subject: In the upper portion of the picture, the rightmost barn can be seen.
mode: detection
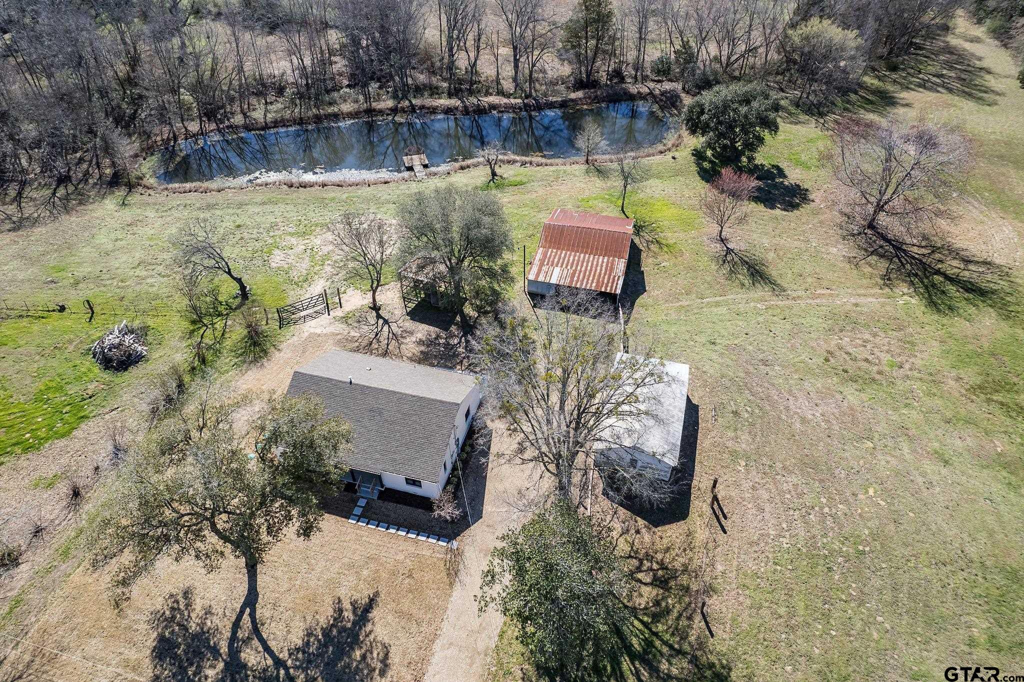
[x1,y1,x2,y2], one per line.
[528,209,636,307]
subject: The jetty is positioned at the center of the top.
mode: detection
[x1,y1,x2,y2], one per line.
[401,154,430,177]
